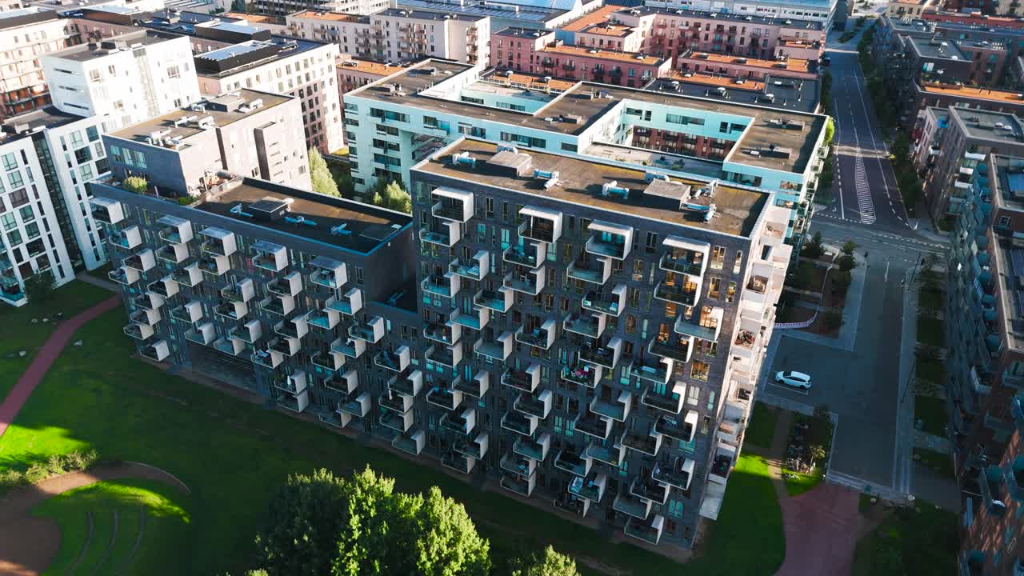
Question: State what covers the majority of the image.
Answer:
buildings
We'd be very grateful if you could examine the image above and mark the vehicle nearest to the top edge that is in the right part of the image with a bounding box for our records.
[774,371,810,390]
